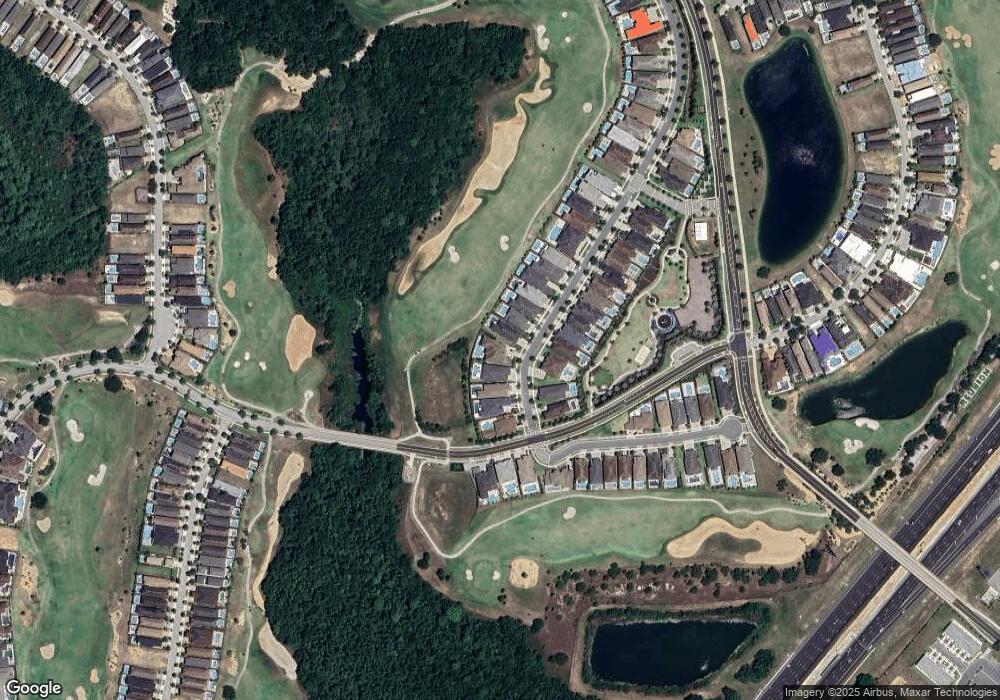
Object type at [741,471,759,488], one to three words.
swimming pool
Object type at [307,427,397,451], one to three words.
bridge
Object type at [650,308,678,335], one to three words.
fountain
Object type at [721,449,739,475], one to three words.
house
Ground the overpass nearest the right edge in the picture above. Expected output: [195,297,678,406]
[855,516,960,607]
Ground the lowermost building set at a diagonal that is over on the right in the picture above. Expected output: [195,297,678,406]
[915,654,958,690]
